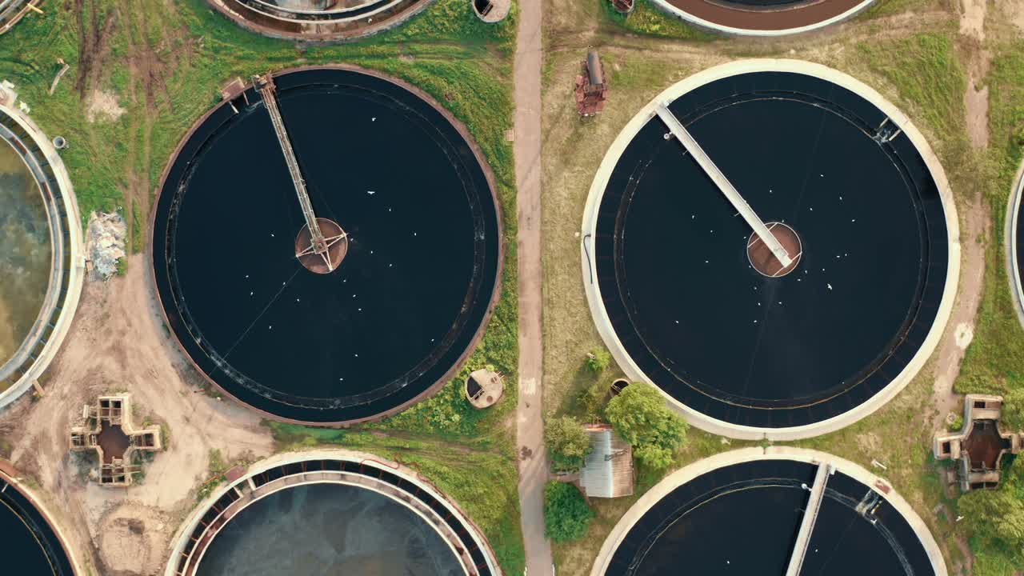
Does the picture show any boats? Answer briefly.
No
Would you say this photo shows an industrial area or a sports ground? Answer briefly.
industrial area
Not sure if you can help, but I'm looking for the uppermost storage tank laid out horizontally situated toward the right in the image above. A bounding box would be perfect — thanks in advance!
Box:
[645,0,875,40]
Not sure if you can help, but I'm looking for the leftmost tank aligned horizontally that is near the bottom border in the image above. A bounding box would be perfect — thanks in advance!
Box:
[164,449,502,576]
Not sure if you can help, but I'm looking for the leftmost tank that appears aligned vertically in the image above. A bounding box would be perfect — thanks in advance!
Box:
[0,95,88,410]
